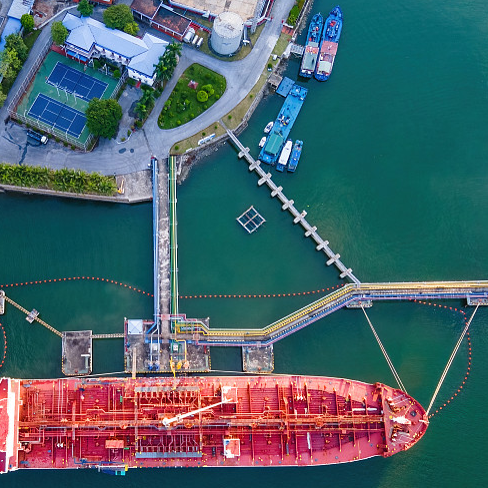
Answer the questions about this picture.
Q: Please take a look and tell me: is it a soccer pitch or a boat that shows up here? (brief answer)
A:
boat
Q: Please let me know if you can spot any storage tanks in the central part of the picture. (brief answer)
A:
No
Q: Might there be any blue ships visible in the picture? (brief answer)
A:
Yes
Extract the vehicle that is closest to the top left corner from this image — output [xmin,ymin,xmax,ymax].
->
[27,130,48,144]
